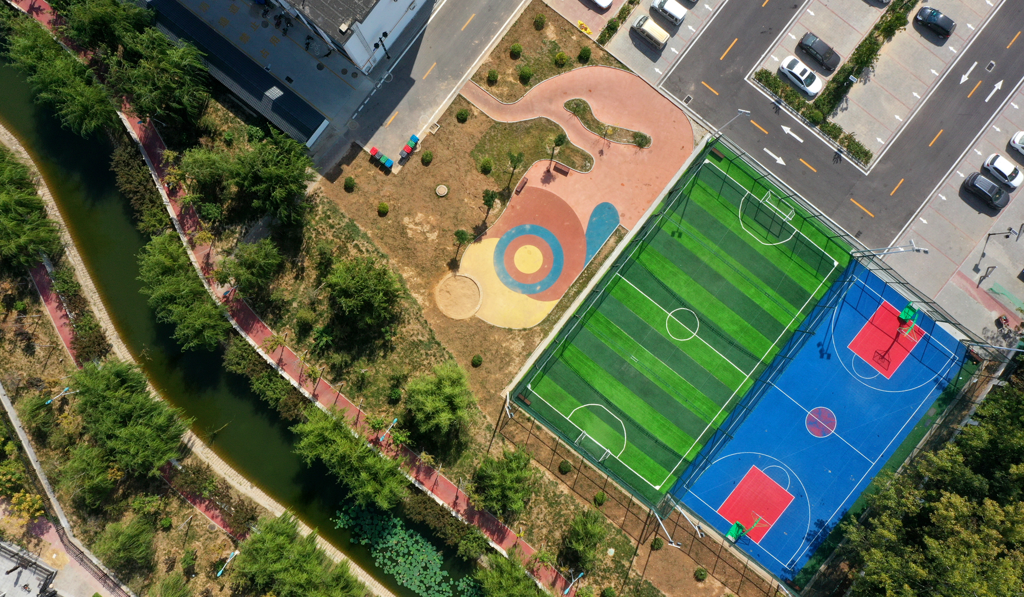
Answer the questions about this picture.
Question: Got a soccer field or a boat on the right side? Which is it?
soccer field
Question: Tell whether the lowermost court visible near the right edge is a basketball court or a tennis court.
basketball court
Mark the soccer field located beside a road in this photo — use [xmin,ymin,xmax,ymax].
[510,138,856,507]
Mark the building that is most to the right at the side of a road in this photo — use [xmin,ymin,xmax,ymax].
[263,0,427,80]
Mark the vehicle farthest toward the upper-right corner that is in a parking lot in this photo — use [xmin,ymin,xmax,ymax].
[912,3,959,43]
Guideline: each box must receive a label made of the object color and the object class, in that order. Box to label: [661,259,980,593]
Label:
blue basketball court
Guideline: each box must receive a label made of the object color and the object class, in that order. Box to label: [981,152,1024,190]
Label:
white car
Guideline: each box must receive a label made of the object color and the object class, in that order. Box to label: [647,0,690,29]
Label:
white car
